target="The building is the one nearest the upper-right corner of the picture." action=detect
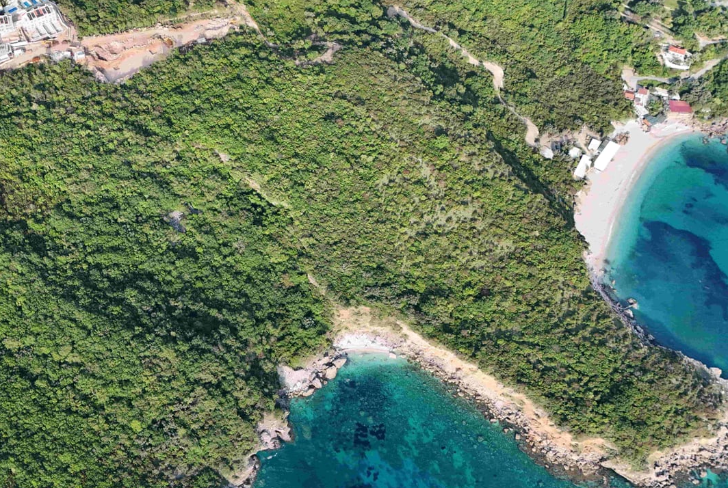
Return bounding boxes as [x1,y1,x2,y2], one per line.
[668,46,694,63]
